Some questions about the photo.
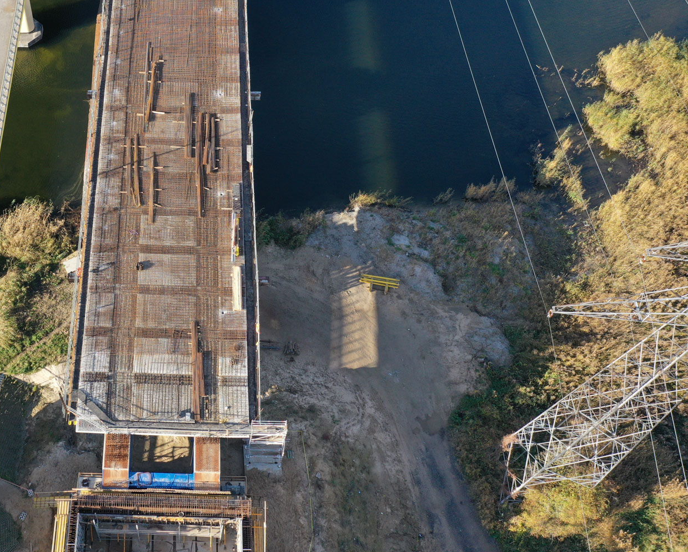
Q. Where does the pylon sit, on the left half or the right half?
right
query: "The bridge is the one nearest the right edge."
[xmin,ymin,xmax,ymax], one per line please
[60,0,262,499]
